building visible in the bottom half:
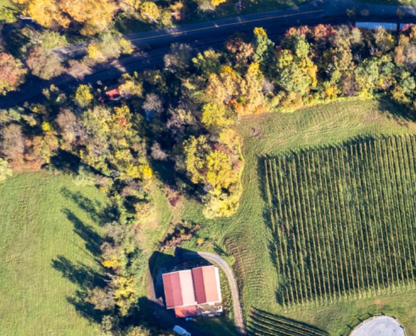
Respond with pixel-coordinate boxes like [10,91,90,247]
[163,266,224,317]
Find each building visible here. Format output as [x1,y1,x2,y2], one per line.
[163,266,224,317]
[105,84,124,98]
